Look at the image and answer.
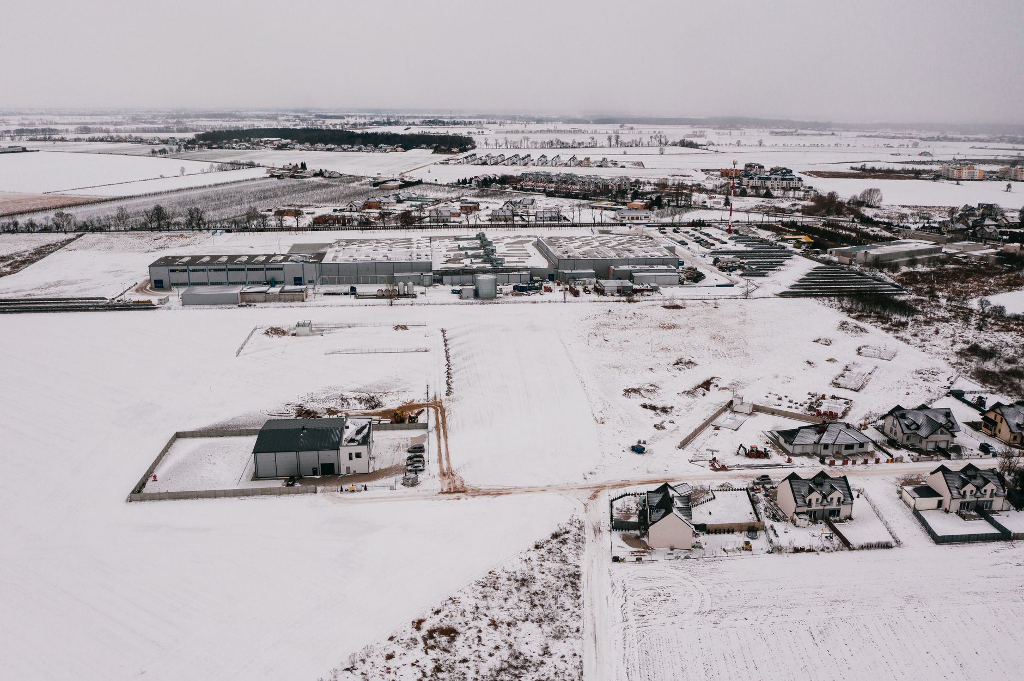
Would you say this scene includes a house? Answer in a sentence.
Yes, there's a house down there.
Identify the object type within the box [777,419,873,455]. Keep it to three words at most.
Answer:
house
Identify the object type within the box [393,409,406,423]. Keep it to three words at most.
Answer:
vehicle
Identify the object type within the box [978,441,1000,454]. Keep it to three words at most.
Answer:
vehicle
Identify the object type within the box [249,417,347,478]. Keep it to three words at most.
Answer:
building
